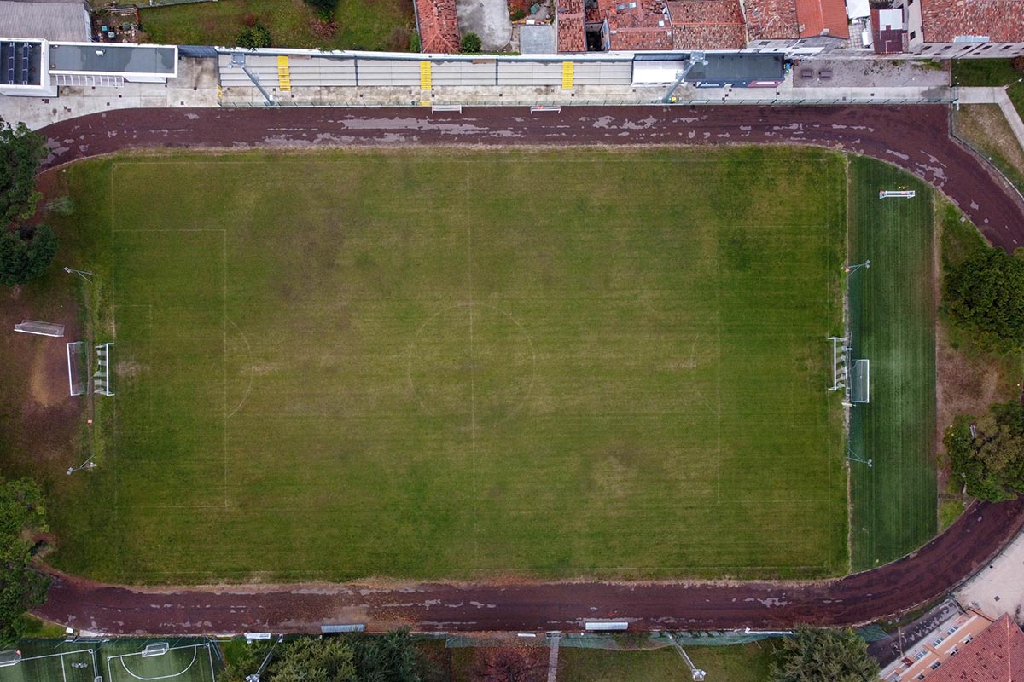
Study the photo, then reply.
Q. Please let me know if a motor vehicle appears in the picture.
No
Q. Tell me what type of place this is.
sports ground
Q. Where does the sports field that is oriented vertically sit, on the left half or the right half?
right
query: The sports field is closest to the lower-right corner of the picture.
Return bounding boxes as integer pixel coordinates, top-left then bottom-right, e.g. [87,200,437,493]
[845,150,938,577]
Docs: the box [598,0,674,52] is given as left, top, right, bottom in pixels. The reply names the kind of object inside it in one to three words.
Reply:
house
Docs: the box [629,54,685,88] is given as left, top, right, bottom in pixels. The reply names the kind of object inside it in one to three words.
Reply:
building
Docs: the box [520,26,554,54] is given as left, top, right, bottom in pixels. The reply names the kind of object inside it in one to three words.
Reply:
shed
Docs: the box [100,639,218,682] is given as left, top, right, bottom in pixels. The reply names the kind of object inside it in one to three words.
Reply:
sports field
